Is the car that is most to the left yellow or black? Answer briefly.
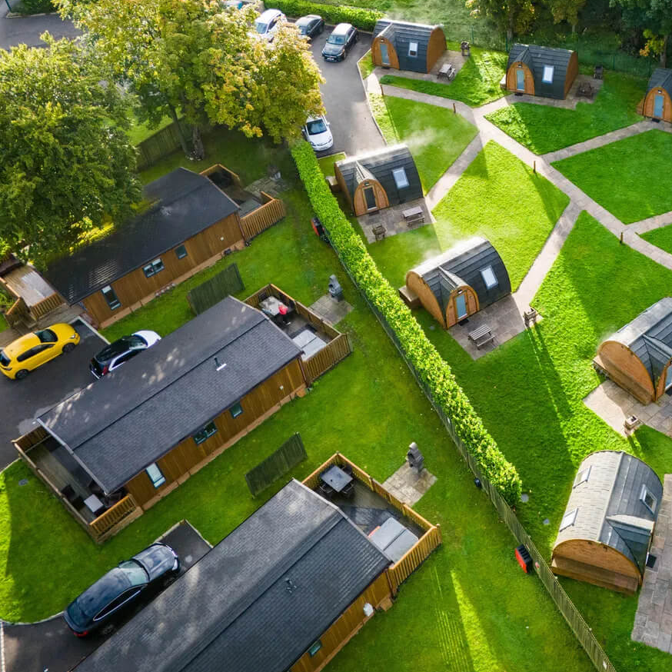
yellow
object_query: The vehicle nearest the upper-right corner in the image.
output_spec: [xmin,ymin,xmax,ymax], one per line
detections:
[329,23,359,54]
